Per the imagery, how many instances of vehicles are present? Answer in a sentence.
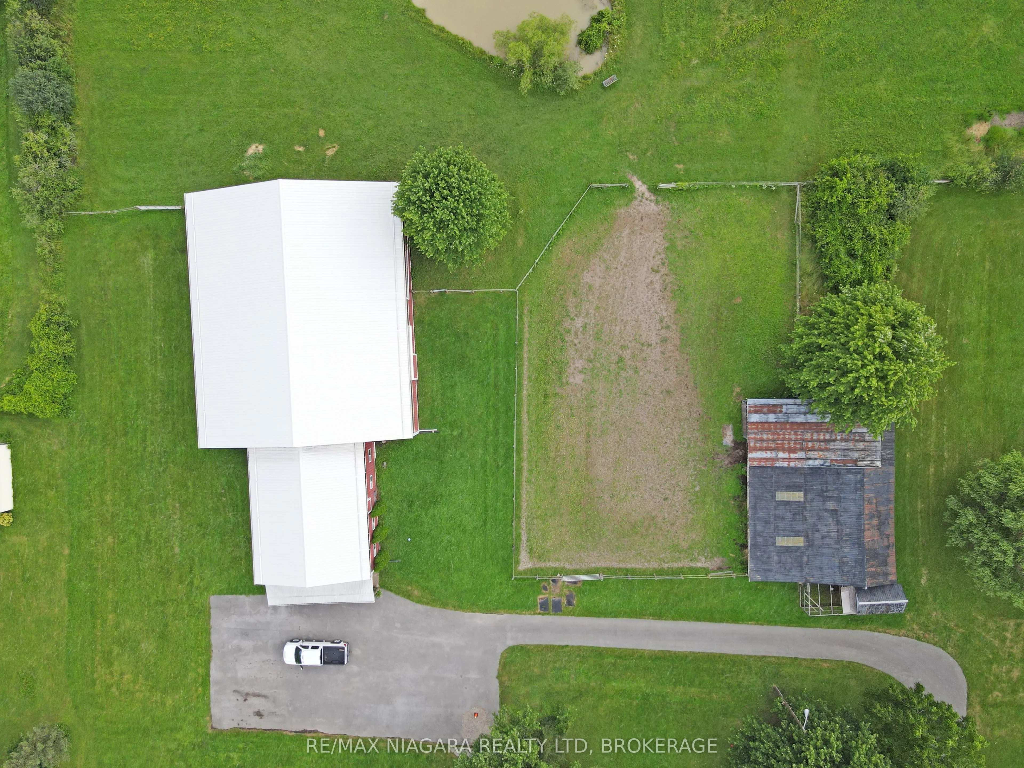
My tally gives 1 vehicle in this photo.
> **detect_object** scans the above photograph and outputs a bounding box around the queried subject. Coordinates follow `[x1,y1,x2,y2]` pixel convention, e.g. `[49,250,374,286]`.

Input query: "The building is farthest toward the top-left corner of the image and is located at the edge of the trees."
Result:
[181,179,418,449]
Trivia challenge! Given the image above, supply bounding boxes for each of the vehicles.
[284,639,352,669]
